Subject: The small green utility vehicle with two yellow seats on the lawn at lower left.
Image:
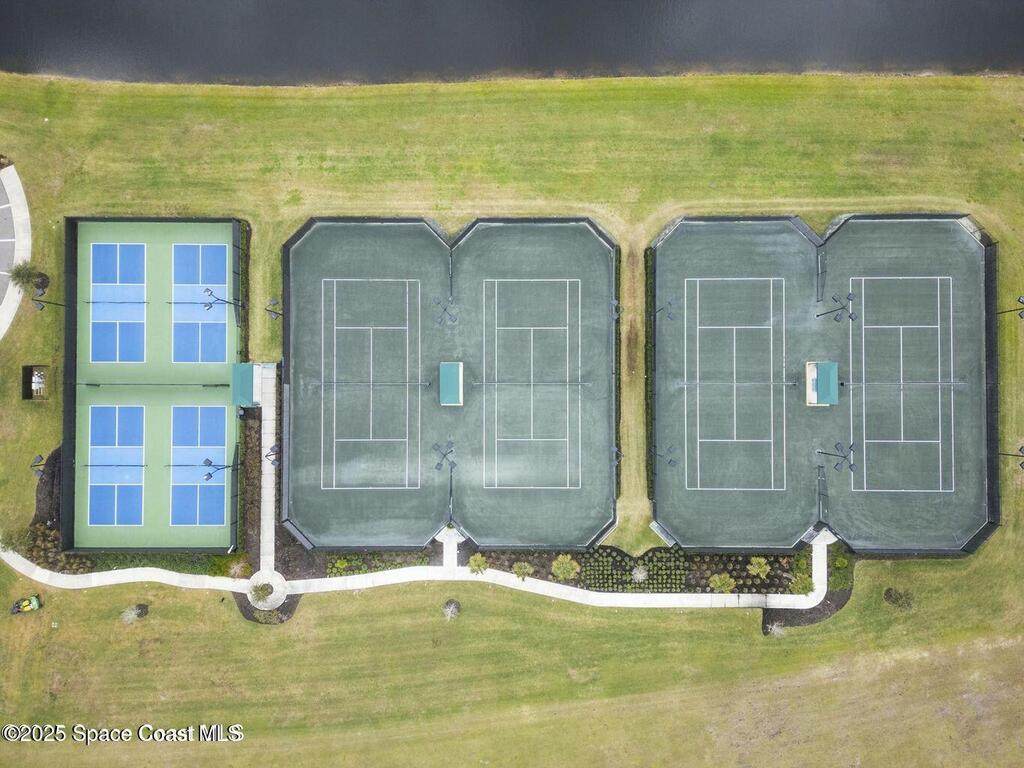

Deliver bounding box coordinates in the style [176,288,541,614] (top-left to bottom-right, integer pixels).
[9,594,40,615]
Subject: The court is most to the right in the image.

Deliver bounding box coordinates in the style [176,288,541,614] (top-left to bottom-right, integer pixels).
[818,219,989,549]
